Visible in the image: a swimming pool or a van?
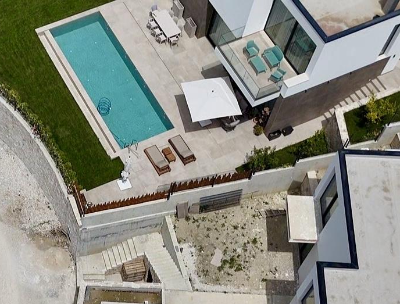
swimming pool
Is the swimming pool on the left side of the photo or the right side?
left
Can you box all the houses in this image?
[170,0,400,137]
[286,148,400,304]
